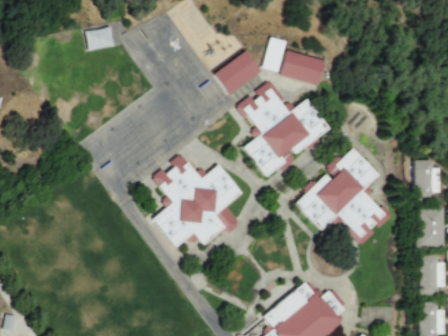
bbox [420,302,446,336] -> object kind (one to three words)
house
